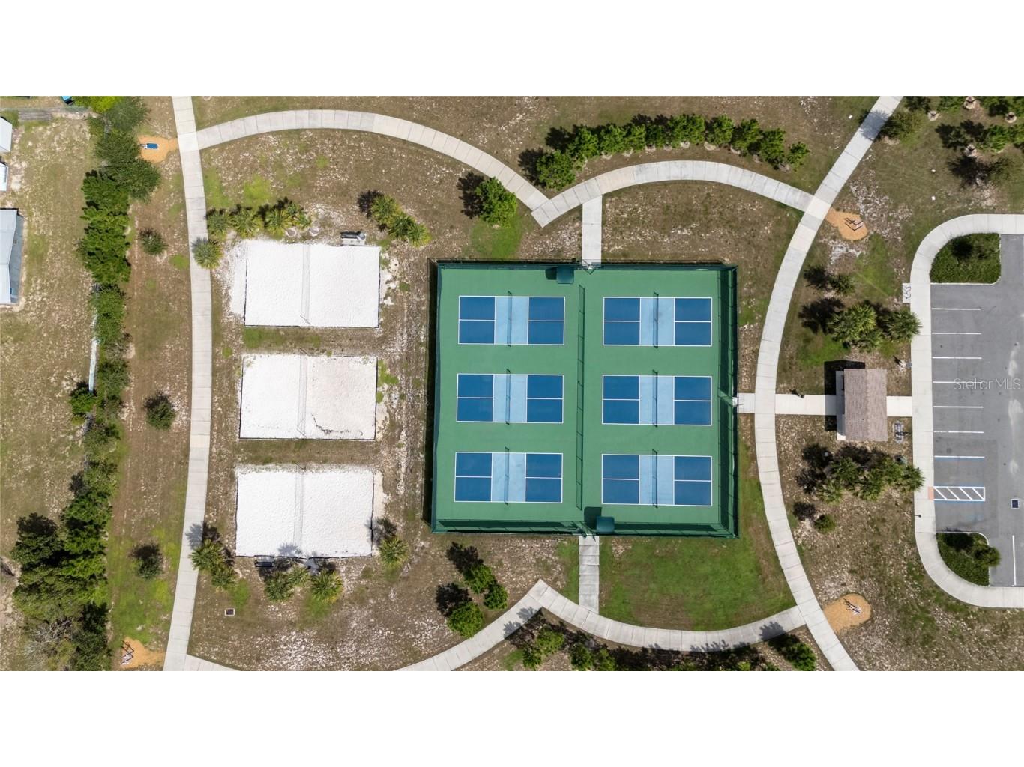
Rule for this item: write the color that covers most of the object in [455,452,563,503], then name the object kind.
blue sports court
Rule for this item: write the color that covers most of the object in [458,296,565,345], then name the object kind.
blue sports court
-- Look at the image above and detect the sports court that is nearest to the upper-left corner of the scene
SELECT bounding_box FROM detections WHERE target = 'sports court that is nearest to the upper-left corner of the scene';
[244,242,380,328]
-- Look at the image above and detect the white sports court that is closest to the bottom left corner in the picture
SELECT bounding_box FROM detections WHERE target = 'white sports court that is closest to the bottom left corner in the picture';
[234,467,374,557]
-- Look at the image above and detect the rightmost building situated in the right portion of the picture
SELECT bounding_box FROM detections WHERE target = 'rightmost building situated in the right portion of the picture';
[836,369,888,441]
